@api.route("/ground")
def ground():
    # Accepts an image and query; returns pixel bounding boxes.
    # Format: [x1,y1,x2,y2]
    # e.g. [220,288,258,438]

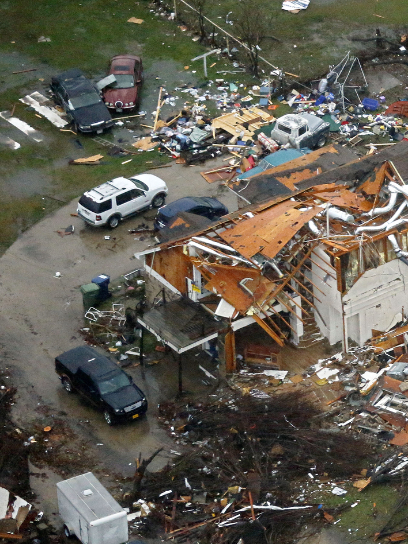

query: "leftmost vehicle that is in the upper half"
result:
[49,67,114,132]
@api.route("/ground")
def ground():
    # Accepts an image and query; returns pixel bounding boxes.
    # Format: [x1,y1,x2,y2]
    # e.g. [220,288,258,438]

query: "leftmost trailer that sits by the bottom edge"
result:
[56,471,130,544]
